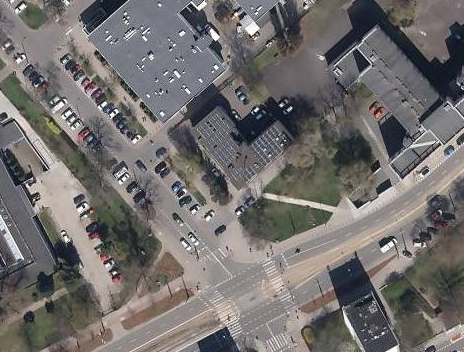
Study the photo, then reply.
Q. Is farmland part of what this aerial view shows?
No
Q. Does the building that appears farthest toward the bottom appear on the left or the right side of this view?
right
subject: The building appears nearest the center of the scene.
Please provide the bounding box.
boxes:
[193,106,294,195]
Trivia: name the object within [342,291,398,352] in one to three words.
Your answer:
building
